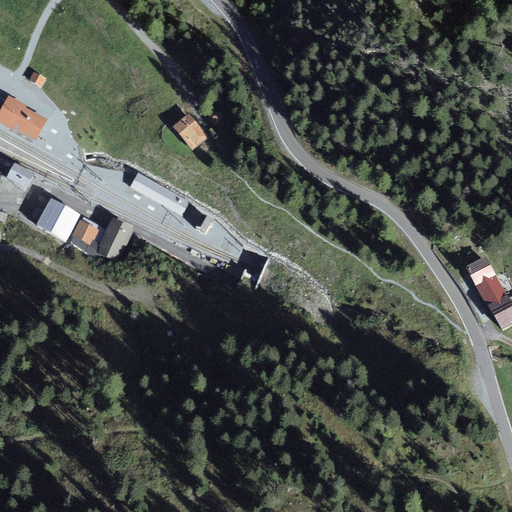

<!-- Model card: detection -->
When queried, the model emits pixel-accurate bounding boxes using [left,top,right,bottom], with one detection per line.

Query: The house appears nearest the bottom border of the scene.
[466,255,512,329]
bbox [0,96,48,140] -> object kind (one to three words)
building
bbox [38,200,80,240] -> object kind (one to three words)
building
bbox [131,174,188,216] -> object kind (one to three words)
shed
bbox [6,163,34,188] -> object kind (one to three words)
house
